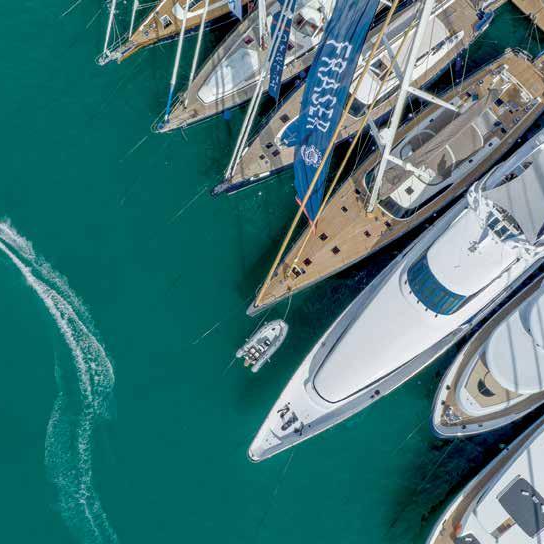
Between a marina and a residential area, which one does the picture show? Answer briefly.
marina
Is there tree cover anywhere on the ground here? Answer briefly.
No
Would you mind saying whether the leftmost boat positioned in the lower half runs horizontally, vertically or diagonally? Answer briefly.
diagonally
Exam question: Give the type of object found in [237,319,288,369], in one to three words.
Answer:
boat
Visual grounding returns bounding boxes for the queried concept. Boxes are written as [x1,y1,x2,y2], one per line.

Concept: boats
[431,416,544,544]
[249,130,544,460]
[430,270,544,434]
[92,0,249,64]
[156,0,335,135]
[237,319,288,369]
[248,0,544,316]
